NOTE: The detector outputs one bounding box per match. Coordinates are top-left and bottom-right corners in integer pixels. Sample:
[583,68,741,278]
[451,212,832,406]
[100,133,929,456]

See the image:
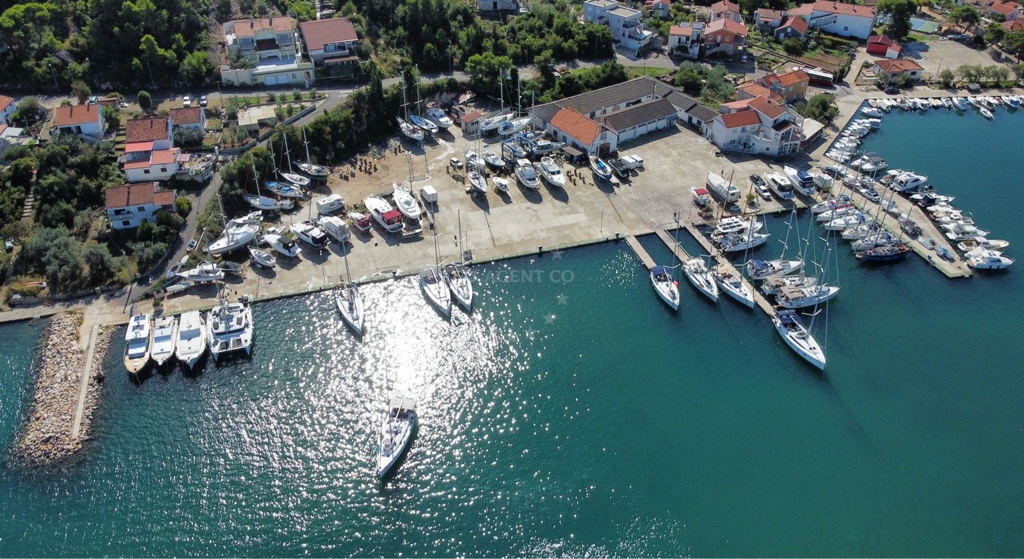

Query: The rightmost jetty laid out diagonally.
[685,225,779,319]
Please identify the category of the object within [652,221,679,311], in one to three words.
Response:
boat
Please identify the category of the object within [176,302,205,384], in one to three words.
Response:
boat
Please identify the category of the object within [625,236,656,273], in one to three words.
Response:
pier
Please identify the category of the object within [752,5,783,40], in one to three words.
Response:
house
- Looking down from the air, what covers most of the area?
water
